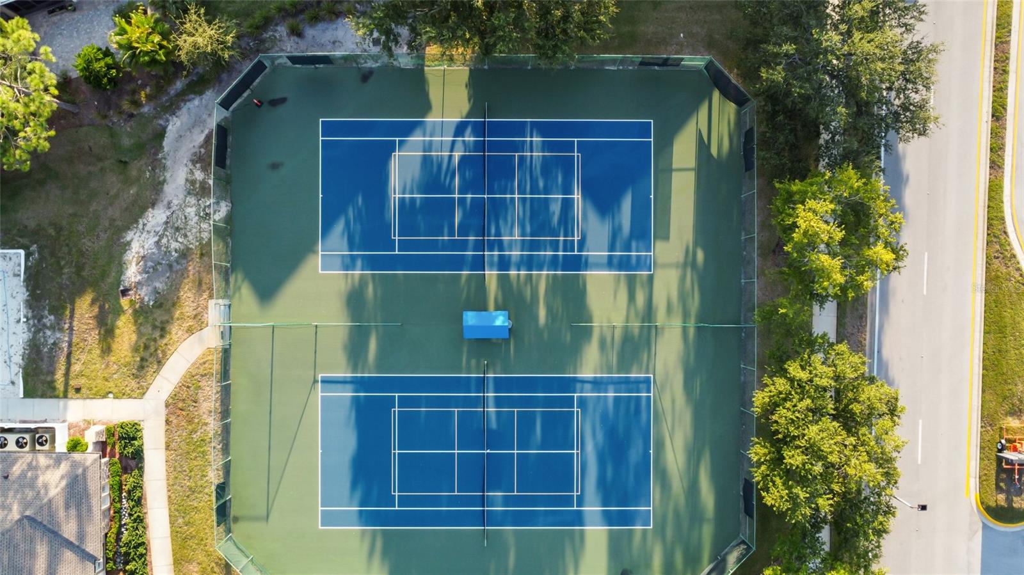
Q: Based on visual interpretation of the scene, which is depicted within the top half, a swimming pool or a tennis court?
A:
tennis court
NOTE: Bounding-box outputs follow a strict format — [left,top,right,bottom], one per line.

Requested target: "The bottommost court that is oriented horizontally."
[319,375,652,529]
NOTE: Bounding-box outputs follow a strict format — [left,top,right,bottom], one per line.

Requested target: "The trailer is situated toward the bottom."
[996,424,1024,488]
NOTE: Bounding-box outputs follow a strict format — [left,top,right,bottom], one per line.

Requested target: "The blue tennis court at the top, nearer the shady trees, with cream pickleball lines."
[320,119,652,273]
